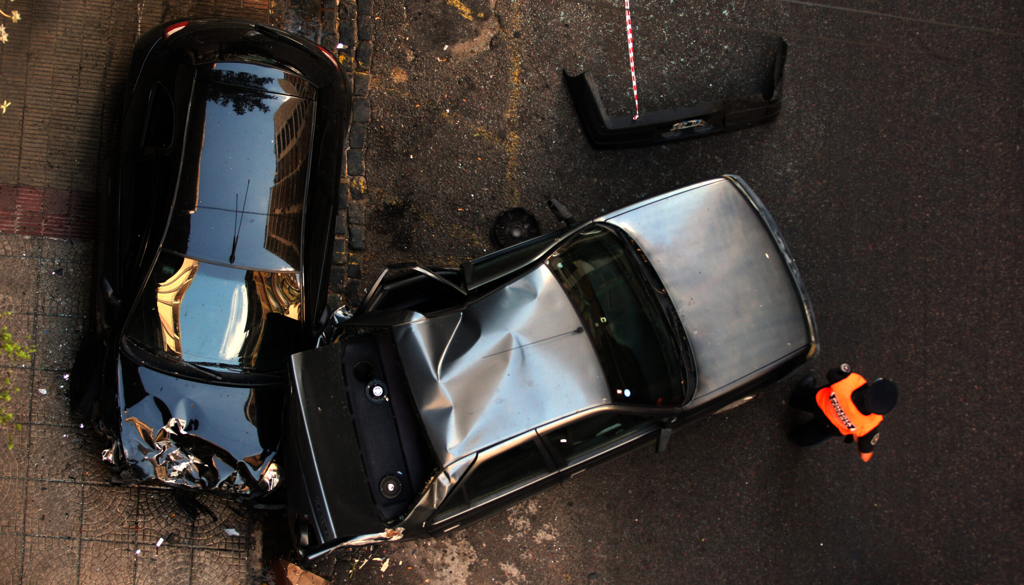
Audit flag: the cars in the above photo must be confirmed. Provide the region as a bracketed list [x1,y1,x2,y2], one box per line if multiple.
[78,16,353,523]
[283,172,821,564]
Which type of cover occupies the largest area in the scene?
paved ground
